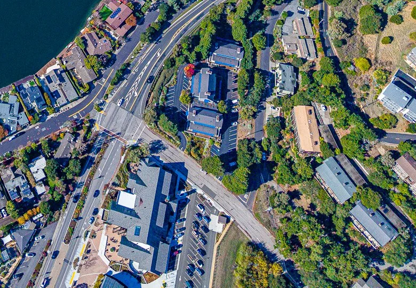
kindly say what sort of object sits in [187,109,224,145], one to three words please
building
